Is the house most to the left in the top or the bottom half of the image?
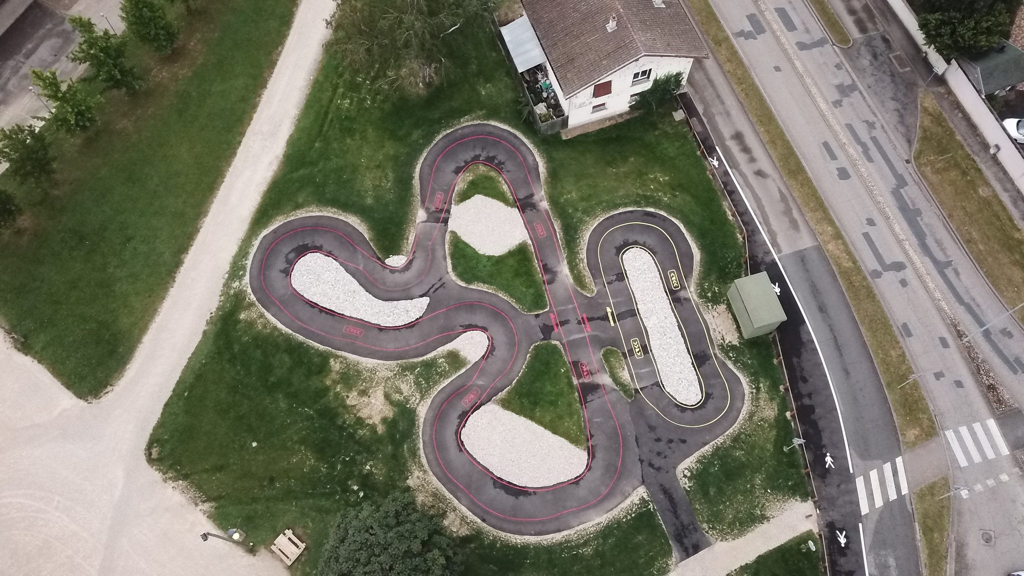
top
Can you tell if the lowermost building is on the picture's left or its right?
right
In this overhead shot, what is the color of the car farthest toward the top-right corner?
white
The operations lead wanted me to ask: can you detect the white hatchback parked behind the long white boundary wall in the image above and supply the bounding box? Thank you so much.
[1004,116,1024,143]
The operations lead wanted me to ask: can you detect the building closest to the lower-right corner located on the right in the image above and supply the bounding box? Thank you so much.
[727,271,788,339]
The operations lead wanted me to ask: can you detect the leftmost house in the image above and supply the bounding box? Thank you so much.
[510,0,711,127]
